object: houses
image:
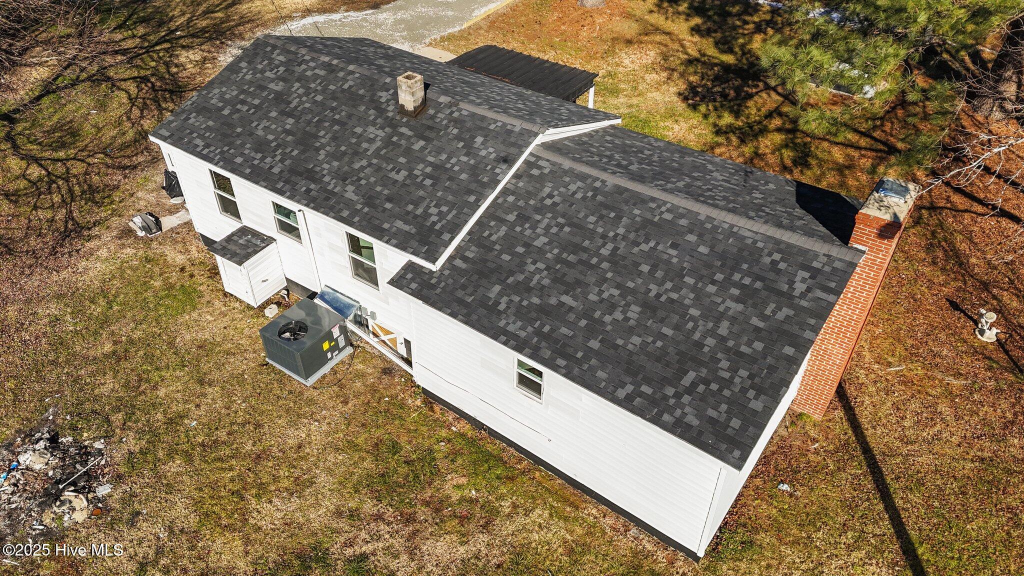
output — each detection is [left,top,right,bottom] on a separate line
[155,34,926,558]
